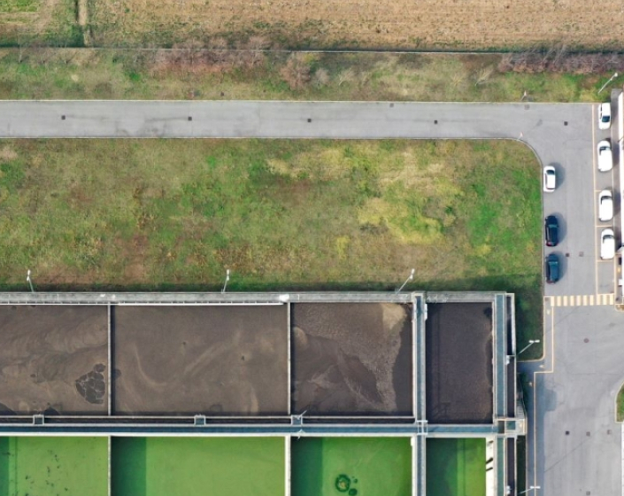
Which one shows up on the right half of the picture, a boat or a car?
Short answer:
car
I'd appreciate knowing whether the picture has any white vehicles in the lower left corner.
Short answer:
No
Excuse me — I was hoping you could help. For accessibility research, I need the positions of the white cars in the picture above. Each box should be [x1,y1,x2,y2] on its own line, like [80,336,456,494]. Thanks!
[594,142,613,174]
[541,167,557,195]
[597,192,614,222]
[595,102,613,132]
[598,231,617,260]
